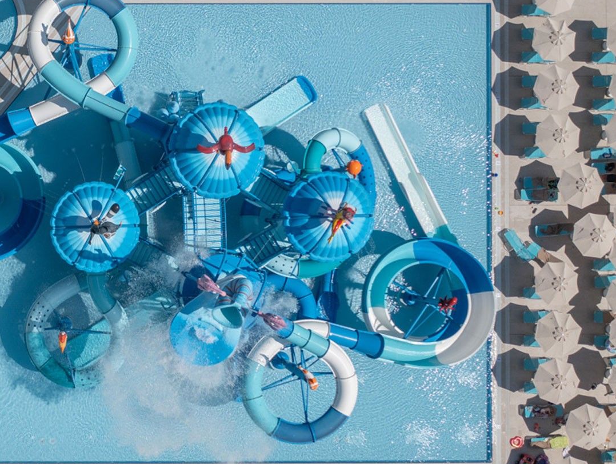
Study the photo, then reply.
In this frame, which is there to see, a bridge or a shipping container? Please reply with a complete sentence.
It is a bridge that can be seen here.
